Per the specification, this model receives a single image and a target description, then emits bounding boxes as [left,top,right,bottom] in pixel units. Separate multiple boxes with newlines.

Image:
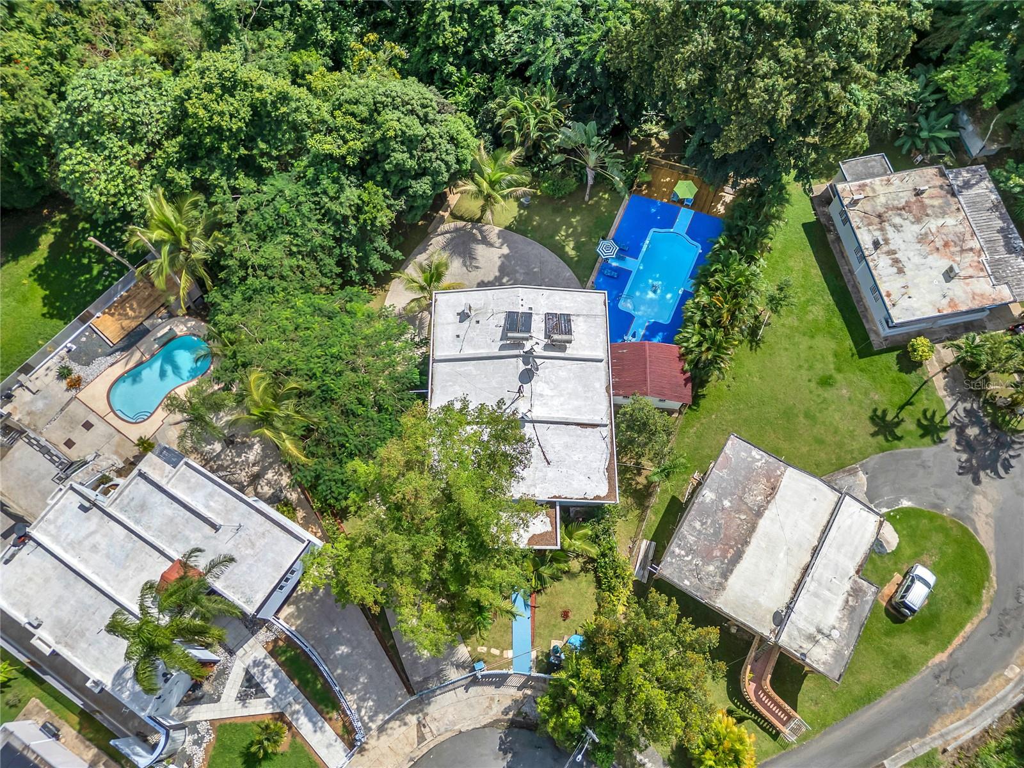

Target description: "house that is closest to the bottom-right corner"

[657,434,886,685]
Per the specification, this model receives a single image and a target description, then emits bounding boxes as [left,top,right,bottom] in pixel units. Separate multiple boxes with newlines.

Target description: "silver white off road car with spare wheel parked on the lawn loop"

[889,560,942,623]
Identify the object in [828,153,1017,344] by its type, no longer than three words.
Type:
house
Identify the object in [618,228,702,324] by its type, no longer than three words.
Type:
swimming pool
